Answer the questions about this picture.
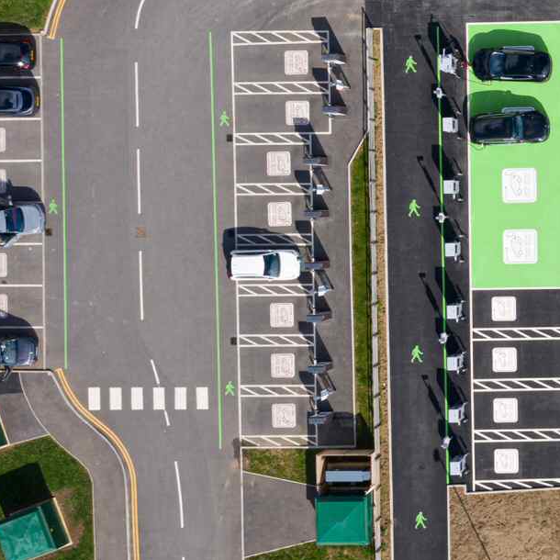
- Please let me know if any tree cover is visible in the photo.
No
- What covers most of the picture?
paved ground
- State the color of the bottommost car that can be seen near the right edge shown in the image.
black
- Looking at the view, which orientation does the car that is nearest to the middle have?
horizontally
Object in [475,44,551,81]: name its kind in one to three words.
car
